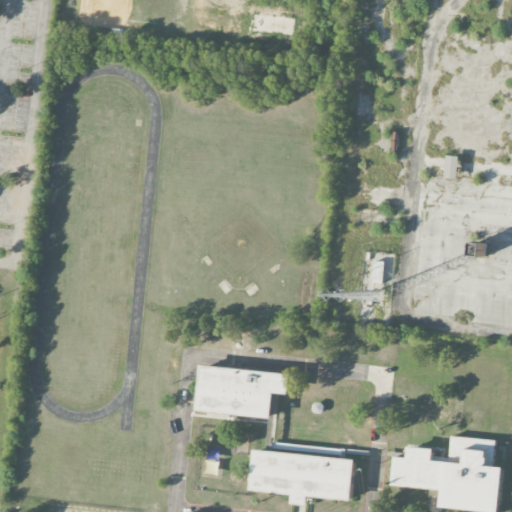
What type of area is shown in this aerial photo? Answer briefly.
sports ground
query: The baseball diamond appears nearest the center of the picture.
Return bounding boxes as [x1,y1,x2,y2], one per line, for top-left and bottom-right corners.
[164,105,312,296]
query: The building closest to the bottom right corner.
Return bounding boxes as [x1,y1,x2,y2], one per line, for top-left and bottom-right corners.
[387,436,504,512]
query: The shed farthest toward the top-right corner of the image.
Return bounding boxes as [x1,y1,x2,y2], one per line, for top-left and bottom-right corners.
[444,156,460,180]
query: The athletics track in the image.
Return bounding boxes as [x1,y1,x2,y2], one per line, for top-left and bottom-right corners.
[34,64,162,431]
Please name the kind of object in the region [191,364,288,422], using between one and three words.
building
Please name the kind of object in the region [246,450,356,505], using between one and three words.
building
